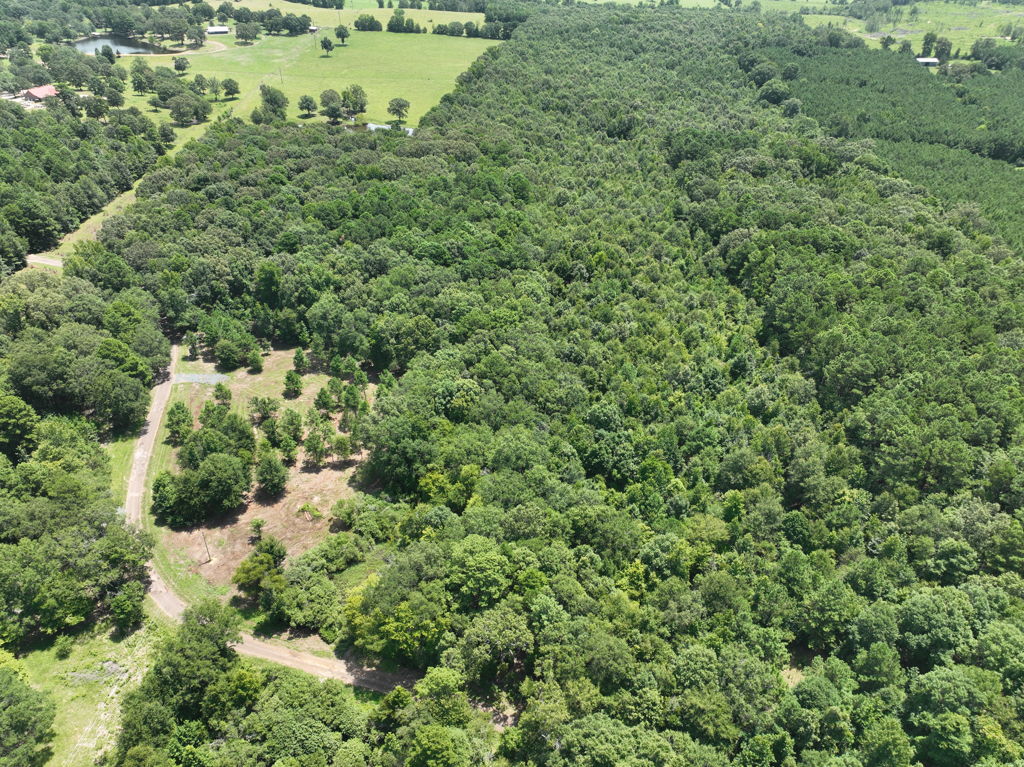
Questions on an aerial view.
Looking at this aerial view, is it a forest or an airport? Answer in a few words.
forest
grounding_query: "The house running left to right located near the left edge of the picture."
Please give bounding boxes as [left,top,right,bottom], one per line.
[22,85,59,99]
